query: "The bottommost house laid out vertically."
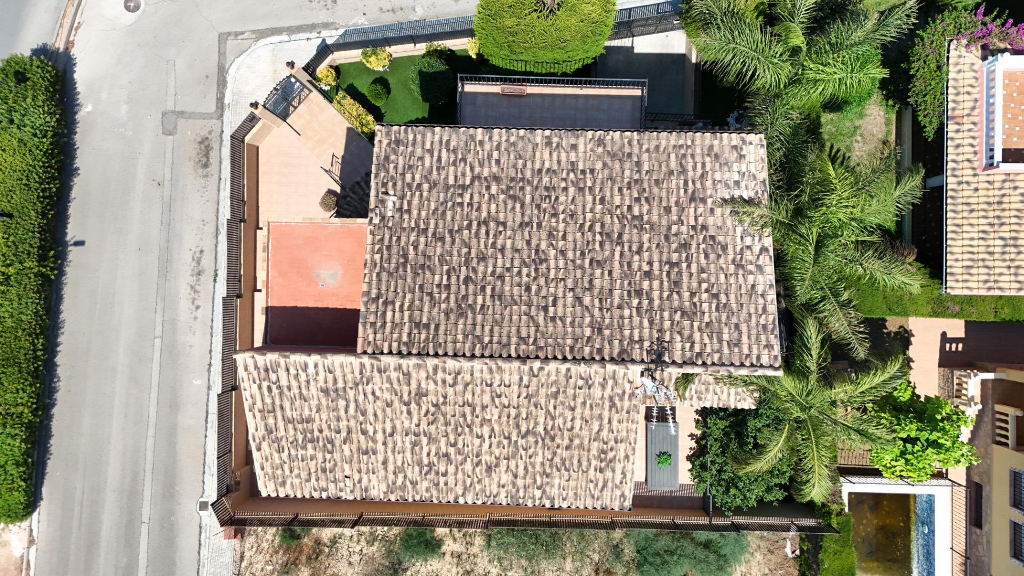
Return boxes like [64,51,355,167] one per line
[936,366,1024,576]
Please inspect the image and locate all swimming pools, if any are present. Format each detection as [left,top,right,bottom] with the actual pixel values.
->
[841,473,953,576]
